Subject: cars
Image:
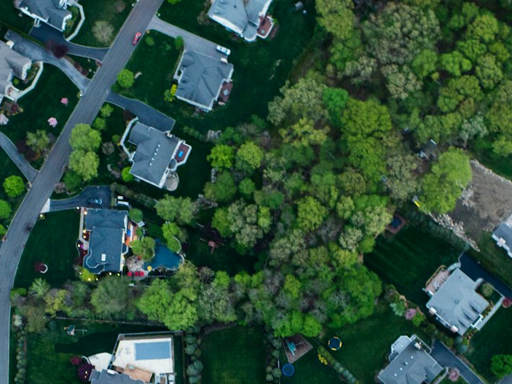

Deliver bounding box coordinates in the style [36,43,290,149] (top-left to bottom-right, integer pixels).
[215,46,231,55]
[88,198,102,204]
[132,31,142,44]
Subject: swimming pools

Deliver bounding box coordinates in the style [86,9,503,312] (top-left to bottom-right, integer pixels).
[134,341,171,361]
[143,239,183,270]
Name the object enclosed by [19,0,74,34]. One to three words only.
house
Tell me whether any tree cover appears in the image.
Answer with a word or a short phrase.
Yes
